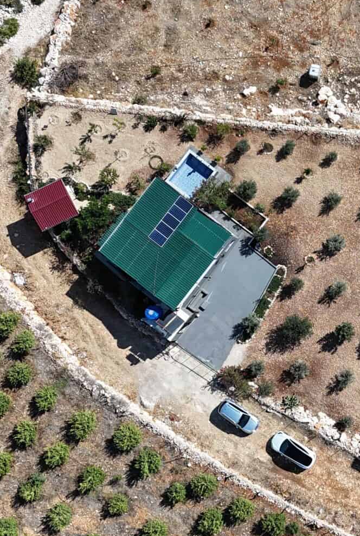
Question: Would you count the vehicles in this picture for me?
two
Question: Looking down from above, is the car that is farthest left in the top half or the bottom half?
bottom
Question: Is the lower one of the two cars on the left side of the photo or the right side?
right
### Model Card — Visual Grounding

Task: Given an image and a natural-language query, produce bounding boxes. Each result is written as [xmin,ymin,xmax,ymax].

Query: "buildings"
[24,179,81,231]
[95,176,240,318]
